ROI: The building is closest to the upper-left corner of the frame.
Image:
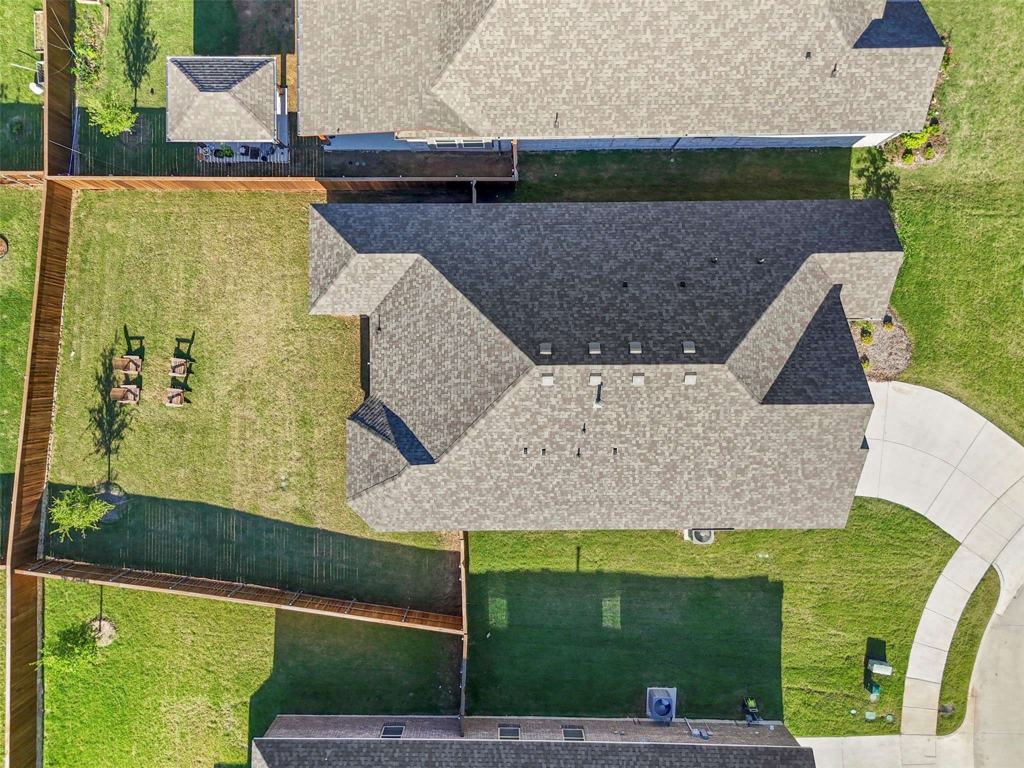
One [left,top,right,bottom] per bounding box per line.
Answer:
[166,56,288,150]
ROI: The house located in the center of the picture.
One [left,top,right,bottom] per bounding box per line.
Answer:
[308,200,902,530]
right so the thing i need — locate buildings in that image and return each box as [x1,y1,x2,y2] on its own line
[250,714,813,768]
[308,200,902,530]
[166,56,288,150]
[294,0,938,149]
